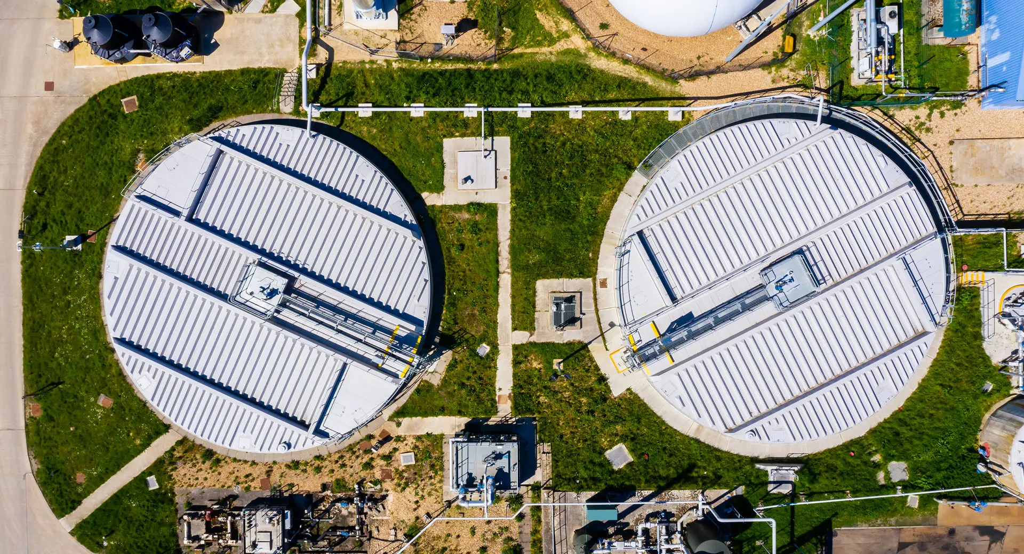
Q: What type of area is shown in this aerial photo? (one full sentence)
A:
The area seen from above is an industrial area.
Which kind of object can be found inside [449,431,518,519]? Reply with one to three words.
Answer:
building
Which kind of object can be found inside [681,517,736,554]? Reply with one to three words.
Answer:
storage tank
